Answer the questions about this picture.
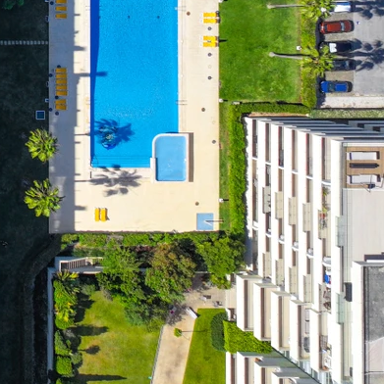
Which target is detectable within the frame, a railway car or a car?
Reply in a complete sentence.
The one in the frame is a car.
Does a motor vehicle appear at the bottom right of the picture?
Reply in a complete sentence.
No, I see no motor vehicle at the bottom right of the picture.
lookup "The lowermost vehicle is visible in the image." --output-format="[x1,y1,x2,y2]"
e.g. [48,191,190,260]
[317,78,351,94]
